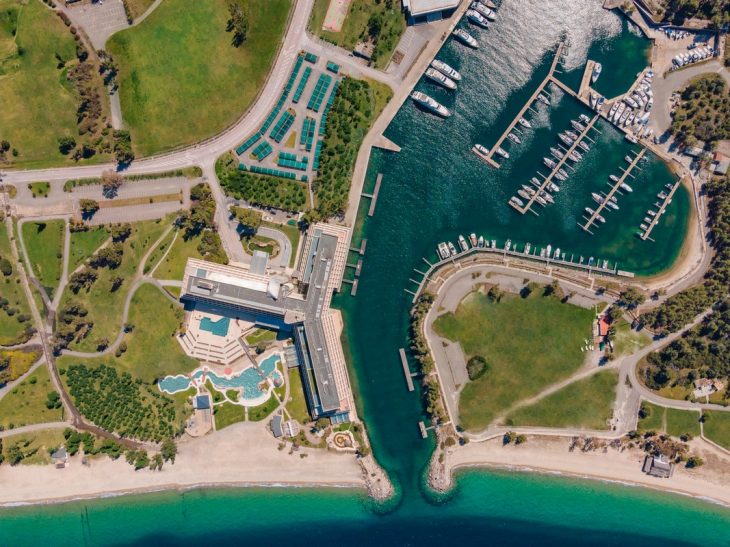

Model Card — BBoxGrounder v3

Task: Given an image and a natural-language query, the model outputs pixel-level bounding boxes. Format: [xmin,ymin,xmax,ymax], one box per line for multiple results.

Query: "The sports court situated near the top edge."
[323,0,350,34]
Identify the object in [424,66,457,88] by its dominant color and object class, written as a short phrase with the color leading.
white boat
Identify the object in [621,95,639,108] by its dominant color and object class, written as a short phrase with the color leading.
white boat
